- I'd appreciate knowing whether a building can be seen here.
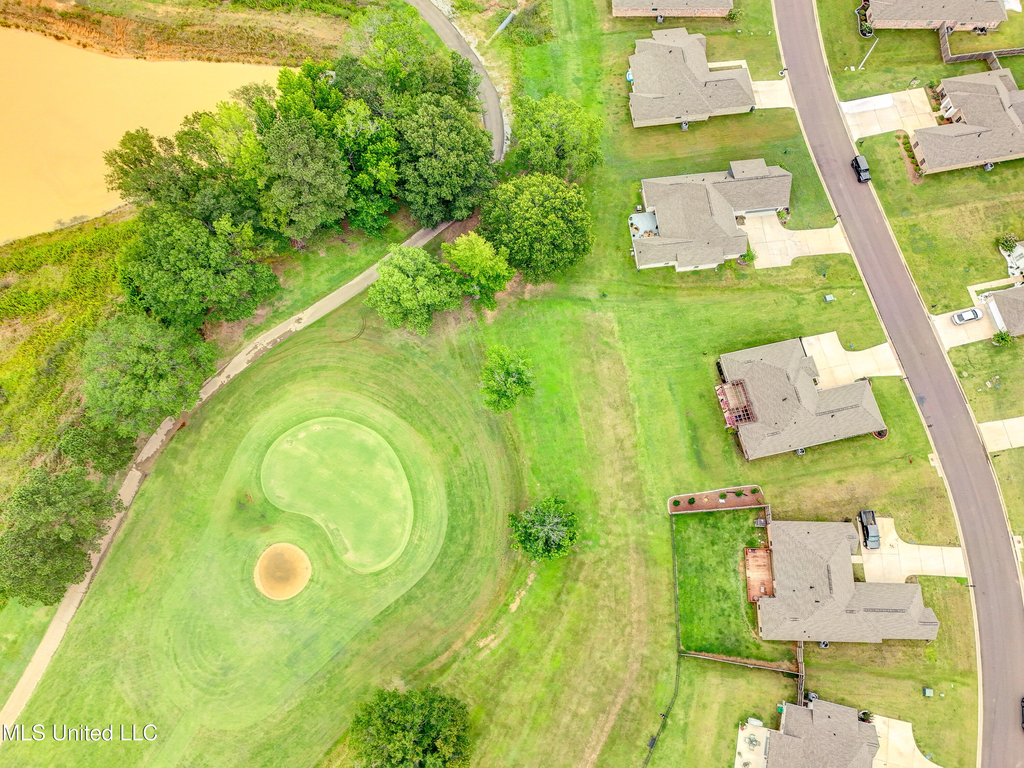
Yes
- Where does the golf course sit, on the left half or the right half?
left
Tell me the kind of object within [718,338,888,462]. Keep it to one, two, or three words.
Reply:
house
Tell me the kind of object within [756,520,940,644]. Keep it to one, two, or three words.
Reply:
house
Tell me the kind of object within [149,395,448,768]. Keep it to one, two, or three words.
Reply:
golf course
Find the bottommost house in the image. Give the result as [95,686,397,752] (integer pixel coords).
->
[763,697,879,768]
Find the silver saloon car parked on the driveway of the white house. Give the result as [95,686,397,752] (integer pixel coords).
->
[951,308,984,325]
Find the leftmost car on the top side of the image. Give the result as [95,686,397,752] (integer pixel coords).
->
[852,157,872,184]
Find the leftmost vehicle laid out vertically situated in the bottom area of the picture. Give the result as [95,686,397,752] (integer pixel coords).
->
[859,512,882,555]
